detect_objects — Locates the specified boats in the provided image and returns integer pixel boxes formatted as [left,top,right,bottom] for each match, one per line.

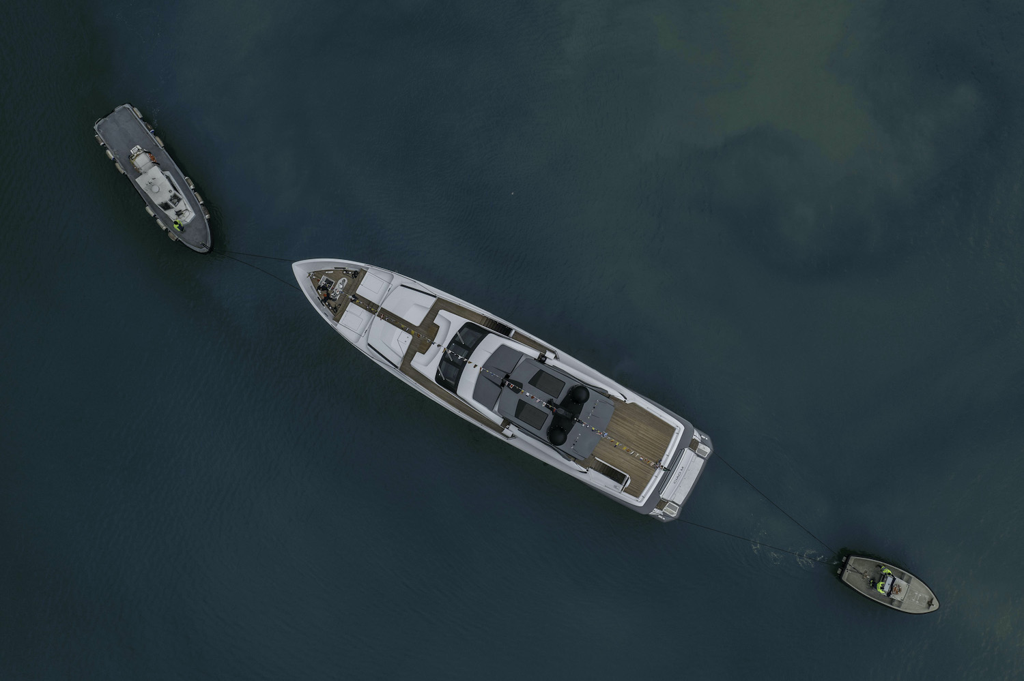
[93,102,215,253]
[836,553,940,615]
[292,257,713,522]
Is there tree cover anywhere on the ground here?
No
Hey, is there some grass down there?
No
